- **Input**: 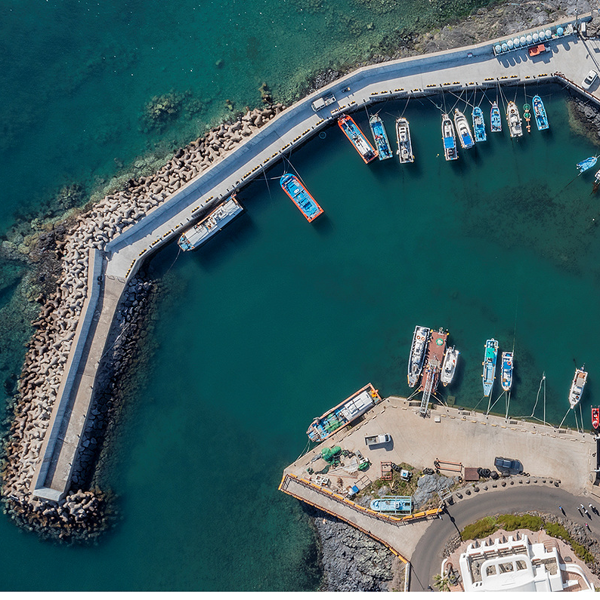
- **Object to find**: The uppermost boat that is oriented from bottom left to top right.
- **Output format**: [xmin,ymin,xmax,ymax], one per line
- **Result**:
[574,155,597,175]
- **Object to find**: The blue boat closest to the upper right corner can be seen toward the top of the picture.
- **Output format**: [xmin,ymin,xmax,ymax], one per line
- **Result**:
[532,95,548,131]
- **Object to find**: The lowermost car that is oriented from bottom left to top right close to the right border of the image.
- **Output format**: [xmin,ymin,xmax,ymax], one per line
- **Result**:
[581,69,600,91]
